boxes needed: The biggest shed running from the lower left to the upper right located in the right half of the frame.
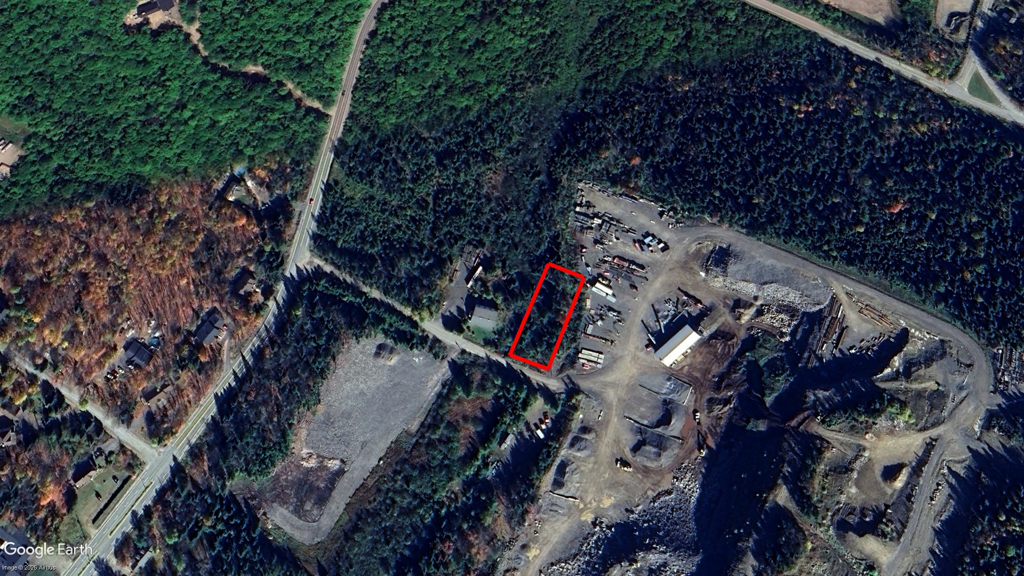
[656,325,702,367]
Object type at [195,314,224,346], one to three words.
house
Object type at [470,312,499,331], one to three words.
house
